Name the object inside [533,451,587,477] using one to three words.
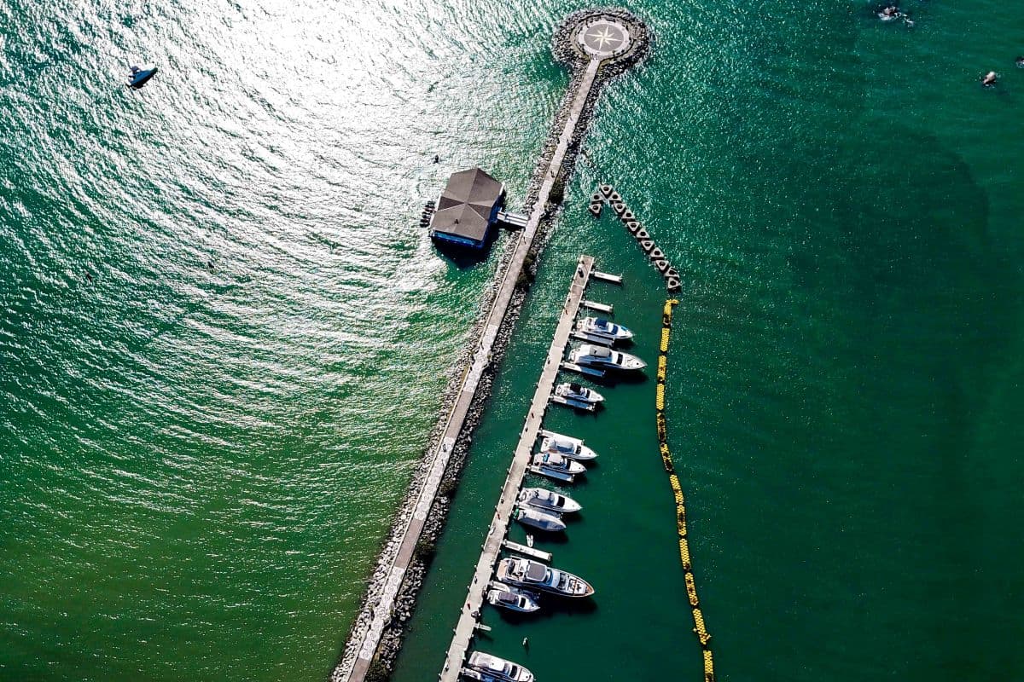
boat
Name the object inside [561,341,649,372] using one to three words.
boat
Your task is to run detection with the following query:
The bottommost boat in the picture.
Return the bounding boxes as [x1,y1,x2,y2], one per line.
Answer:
[468,645,536,682]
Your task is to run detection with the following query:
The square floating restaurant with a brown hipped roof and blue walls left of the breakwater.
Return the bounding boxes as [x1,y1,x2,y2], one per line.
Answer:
[431,168,504,250]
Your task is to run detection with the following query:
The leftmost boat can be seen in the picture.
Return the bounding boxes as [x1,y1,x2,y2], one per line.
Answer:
[125,68,158,88]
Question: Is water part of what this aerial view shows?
Yes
